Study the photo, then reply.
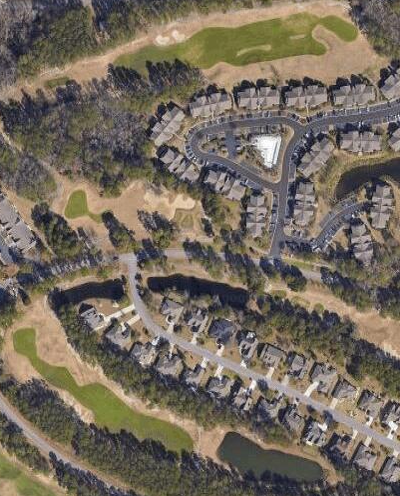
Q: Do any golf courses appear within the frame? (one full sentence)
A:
Yes, there's a golf course here.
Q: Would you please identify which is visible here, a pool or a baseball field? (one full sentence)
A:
Looking from above, you can make out a pool.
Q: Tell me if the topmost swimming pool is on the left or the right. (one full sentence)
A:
You can find the topmost swimming pool on the right side of the picture.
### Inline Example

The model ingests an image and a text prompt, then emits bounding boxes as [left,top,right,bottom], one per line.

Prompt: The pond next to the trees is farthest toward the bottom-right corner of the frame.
[221,434,321,478]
